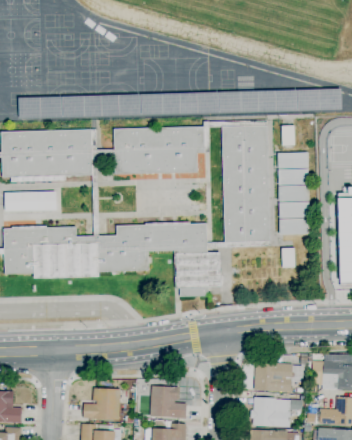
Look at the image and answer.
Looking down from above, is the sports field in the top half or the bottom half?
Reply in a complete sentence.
It is in the top half that the sports field appears.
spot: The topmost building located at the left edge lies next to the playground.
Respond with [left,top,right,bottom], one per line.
[1,128,94,176]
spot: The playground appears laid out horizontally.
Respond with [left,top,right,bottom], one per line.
[0,0,352,120]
